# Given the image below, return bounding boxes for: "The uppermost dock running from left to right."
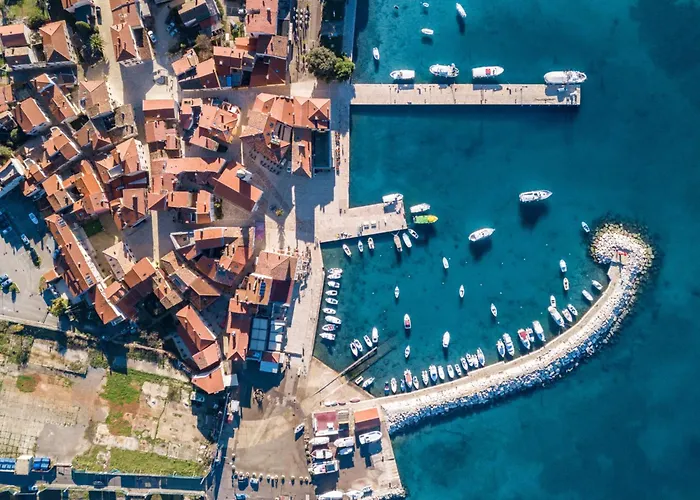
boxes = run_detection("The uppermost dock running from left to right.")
[348,83,580,106]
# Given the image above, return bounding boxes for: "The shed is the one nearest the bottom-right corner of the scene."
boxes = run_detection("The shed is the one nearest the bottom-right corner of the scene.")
[353,405,382,434]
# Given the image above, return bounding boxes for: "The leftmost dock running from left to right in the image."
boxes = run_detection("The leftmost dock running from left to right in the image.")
[319,201,407,243]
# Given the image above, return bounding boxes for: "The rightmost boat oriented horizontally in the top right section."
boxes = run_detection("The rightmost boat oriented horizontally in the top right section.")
[543,68,589,83]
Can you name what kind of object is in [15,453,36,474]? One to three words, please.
shed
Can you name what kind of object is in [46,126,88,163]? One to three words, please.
house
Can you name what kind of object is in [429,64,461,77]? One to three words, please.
boat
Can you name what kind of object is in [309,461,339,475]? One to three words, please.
boat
